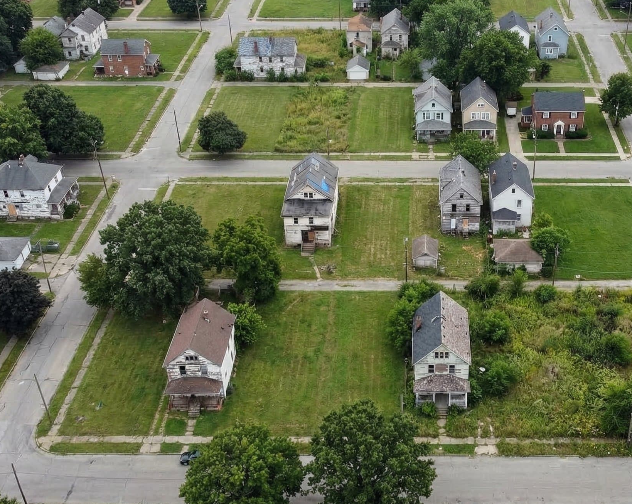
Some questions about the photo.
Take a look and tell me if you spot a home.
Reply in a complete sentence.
Yes, the image includes a home.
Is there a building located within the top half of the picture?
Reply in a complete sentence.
Yes, a building can be seen within the top half of the picture.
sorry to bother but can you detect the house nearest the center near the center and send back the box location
[284,153,337,253]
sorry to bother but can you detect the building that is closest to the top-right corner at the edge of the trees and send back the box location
[537,3,570,54]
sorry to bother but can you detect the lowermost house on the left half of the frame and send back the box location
[161,298,234,416]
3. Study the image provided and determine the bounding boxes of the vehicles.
[505,95,517,115]
[177,448,209,465]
